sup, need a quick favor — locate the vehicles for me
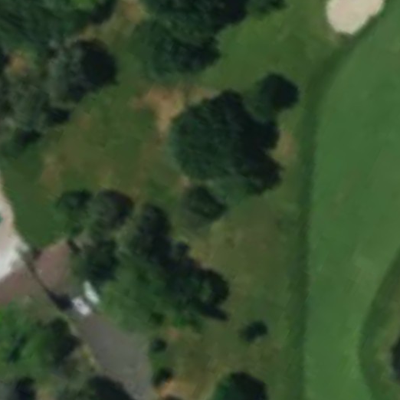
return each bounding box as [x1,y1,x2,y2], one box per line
[81,281,102,308]
[69,296,93,317]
